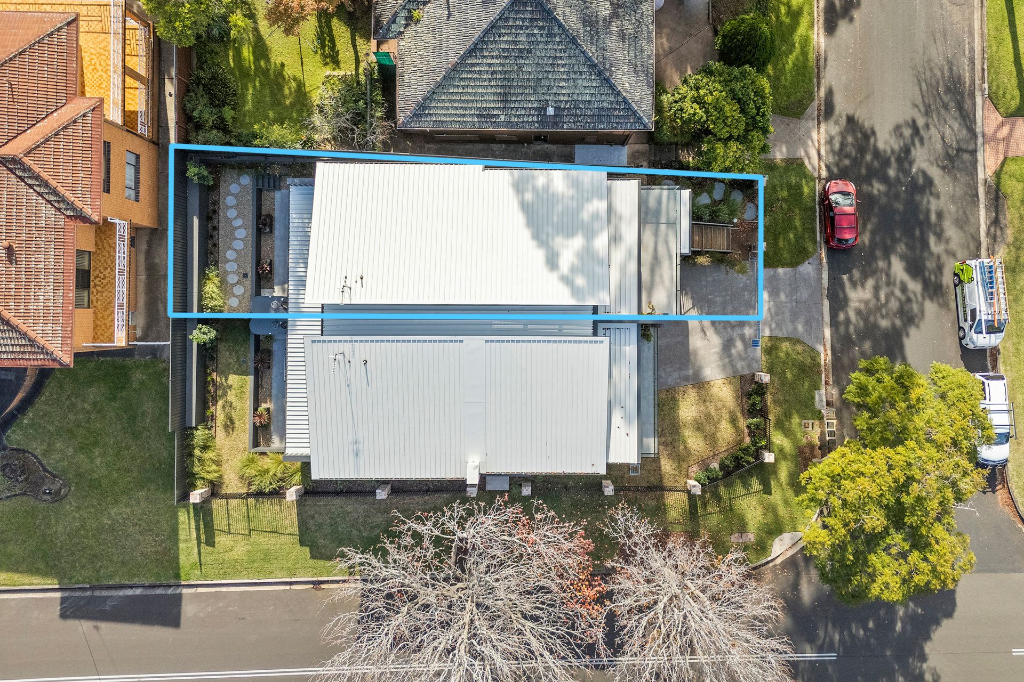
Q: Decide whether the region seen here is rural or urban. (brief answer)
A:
urban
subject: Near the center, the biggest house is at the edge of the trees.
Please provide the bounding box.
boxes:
[283,160,664,485]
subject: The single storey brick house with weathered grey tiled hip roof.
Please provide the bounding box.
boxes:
[371,0,657,141]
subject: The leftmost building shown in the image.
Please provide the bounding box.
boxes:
[0,0,161,369]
